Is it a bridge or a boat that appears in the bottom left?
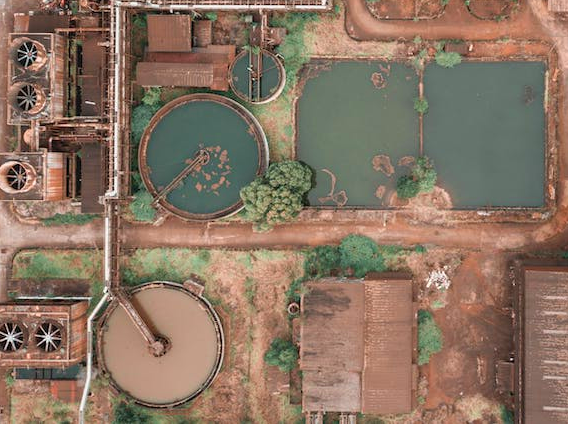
bridge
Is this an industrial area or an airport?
industrial area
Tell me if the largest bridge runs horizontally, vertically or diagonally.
diagonally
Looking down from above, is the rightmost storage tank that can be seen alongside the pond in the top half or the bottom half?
top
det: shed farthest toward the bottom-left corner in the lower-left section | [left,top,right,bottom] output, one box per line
[50,380,84,404]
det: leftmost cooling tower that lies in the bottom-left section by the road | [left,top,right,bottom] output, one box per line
[0,298,90,363]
